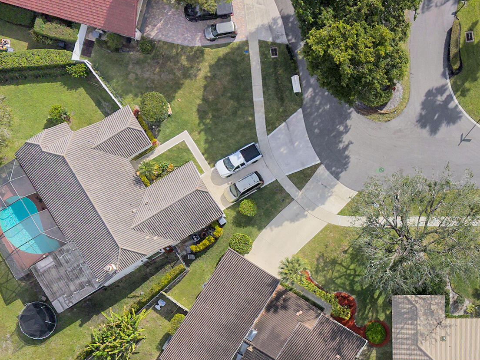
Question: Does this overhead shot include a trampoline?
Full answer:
Yes, there is a trampoline in the image.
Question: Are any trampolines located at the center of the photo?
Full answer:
No, no trampoline appears at the center of the photo.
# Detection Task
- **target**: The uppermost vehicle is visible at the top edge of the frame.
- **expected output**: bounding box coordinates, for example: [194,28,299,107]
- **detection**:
[184,2,234,23]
